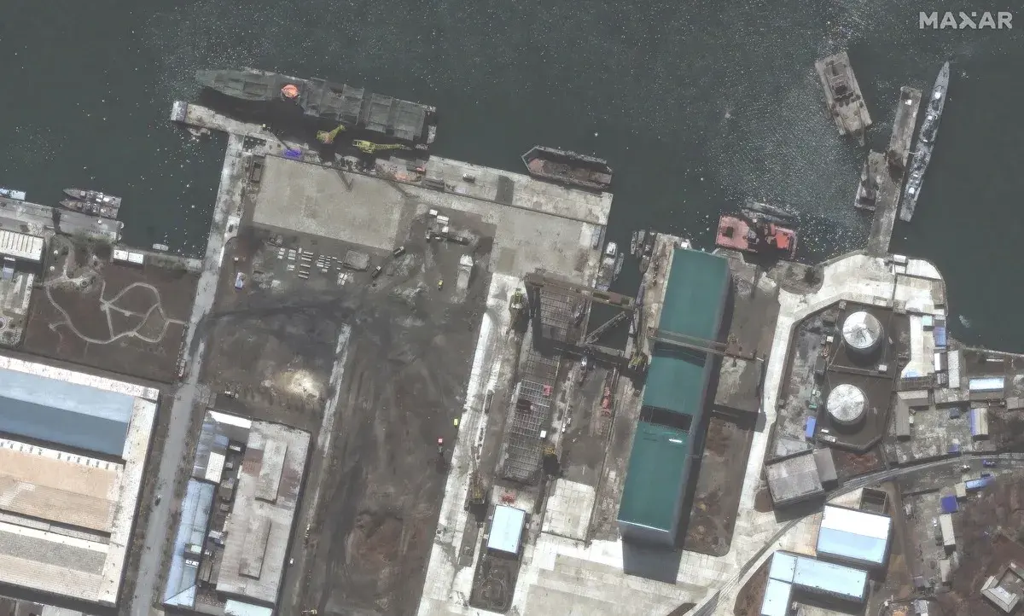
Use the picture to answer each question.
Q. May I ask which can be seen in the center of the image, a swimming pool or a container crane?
container crane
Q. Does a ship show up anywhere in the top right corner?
Yes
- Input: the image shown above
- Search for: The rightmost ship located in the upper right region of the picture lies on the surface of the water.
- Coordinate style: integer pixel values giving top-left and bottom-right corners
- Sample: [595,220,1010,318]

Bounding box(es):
[898,60,948,224]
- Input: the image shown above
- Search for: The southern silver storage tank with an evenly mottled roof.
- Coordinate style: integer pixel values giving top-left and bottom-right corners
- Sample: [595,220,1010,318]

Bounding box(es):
[827,385,867,428]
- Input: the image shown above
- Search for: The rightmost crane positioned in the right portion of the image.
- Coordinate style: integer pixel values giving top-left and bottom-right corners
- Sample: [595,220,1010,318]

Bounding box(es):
[646,324,763,394]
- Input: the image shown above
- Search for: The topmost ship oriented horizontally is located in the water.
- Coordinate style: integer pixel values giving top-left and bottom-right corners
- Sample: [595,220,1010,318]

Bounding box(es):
[195,69,431,146]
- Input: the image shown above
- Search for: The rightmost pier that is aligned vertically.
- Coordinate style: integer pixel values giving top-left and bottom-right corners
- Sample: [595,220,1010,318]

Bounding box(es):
[867,87,922,256]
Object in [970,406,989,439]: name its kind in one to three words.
house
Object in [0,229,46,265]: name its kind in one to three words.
building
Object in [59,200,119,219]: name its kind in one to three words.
boat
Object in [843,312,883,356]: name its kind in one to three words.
storage tank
